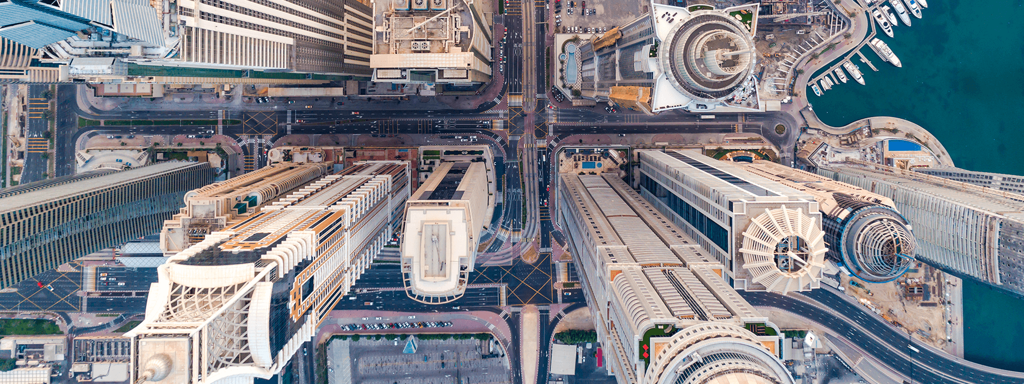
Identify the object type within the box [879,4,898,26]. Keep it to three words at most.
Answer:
boat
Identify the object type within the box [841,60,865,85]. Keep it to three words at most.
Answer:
boat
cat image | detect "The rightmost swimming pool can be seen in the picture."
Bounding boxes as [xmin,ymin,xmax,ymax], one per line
[888,139,922,152]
